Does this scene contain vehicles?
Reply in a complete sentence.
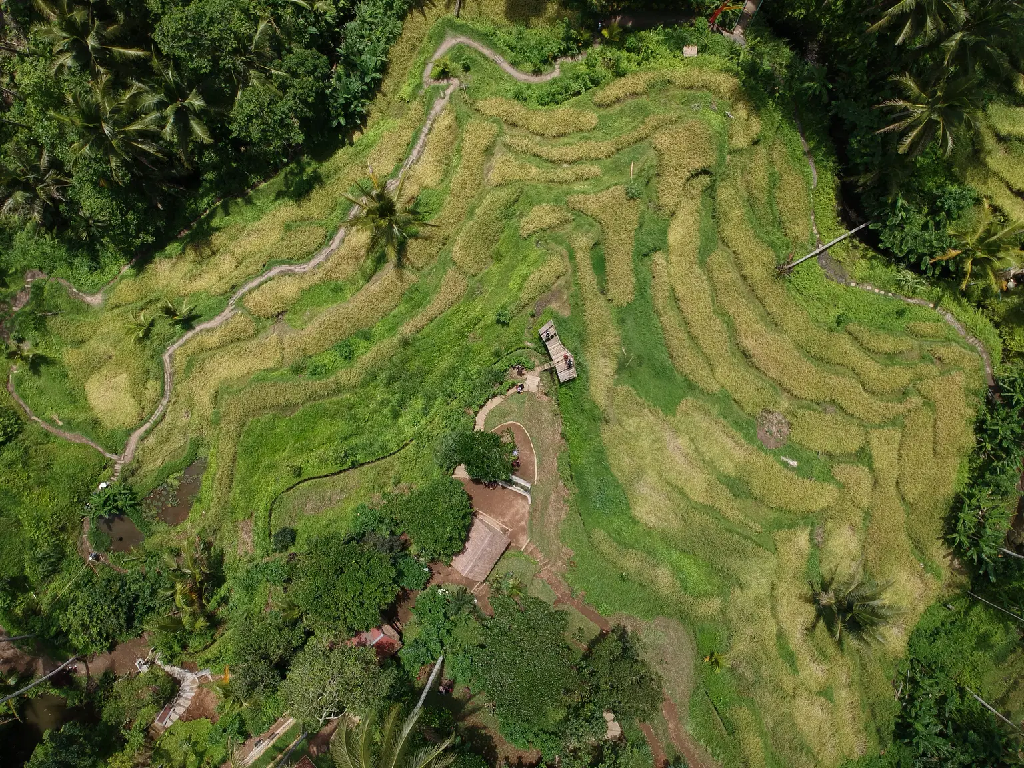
No, I can't see a single vehicle in this photo.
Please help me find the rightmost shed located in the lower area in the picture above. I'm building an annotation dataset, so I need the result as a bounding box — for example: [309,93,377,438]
[449,514,512,582]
